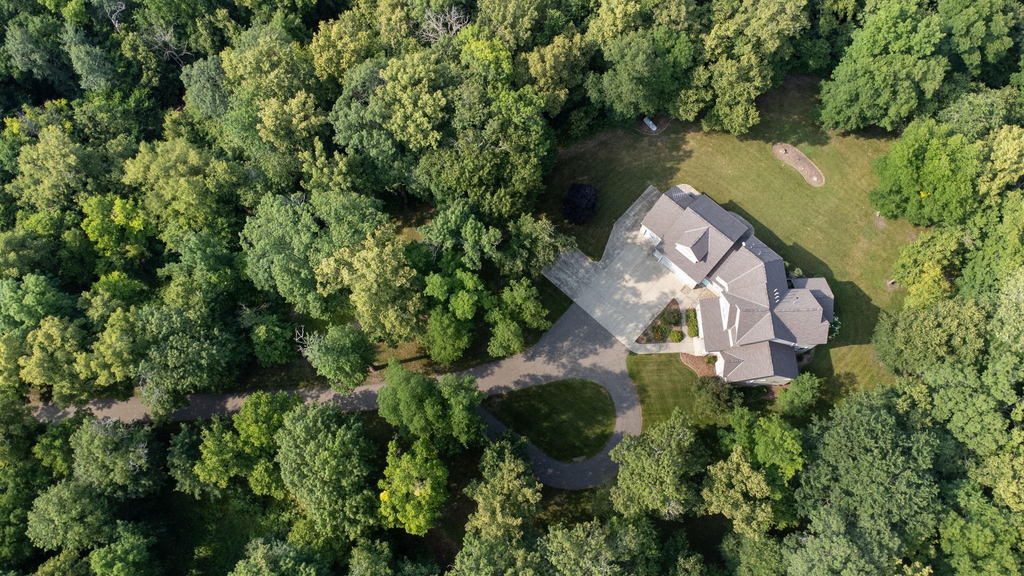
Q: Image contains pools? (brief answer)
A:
No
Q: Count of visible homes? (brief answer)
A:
1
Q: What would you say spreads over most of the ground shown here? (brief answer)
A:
trees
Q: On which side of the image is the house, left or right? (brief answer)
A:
right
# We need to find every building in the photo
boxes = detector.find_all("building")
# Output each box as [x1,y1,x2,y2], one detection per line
[641,186,835,385]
